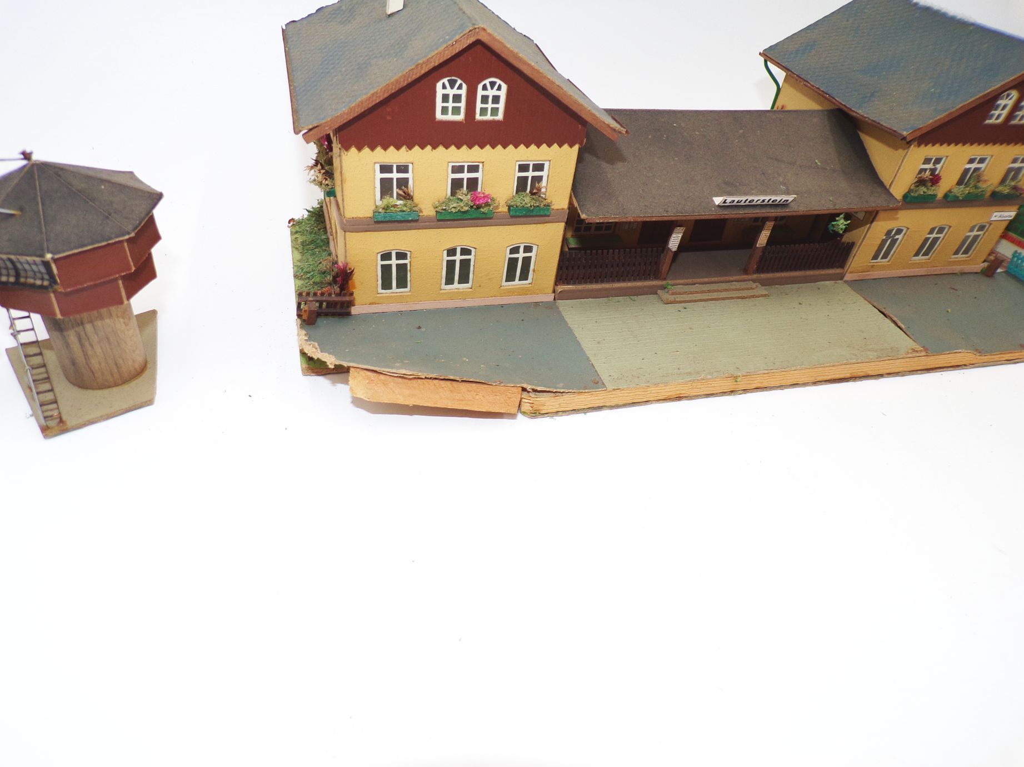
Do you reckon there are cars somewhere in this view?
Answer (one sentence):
No, there's no car here.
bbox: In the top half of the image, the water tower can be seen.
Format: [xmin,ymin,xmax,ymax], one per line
[0,144,164,442]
